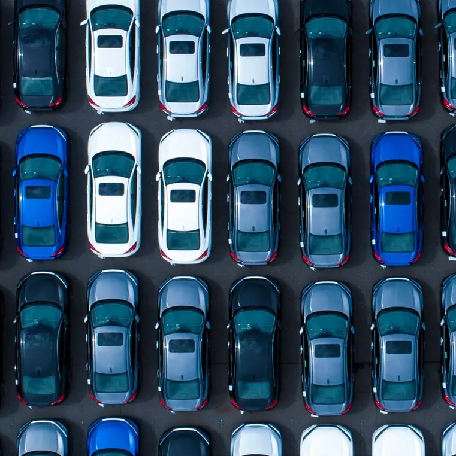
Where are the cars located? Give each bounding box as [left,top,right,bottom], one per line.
[86,417,142,456]
[79,0,142,116]
[83,268,143,408]
[17,419,72,456]
[368,130,427,270]
[300,426,353,456]
[154,275,212,413]
[6,0,70,116]
[297,133,354,271]
[370,276,427,414]
[154,0,212,121]
[220,0,282,122]
[299,281,356,418]
[225,130,283,267]
[155,129,213,267]
[159,427,213,456]
[439,273,456,410]
[372,426,425,456]
[11,271,72,409]
[11,125,72,263]
[226,275,284,413]
[293,0,355,125]
[363,0,425,124]
[432,0,456,117]
[438,124,456,262]
[84,122,143,261]
[230,423,283,456]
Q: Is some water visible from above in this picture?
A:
No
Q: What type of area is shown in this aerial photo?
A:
parking lot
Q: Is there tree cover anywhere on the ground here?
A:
No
